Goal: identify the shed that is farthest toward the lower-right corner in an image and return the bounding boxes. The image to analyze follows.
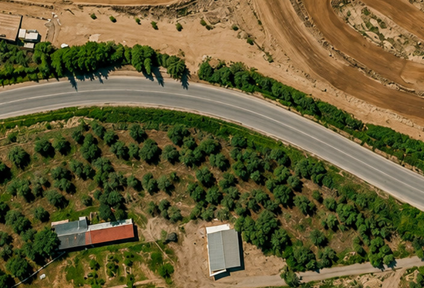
[206,222,241,276]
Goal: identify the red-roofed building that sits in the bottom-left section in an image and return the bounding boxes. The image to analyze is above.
[86,216,137,244]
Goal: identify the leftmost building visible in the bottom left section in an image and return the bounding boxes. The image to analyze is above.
[51,215,90,248]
